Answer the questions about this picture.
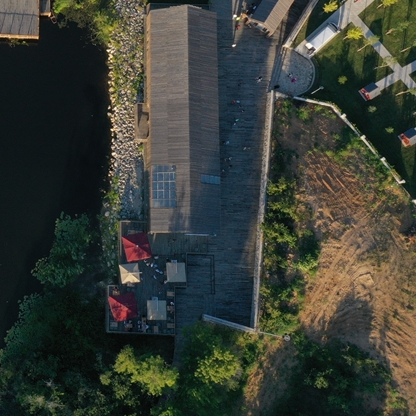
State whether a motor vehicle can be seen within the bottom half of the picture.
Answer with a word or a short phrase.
No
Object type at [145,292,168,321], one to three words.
umbrella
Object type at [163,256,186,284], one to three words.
umbrella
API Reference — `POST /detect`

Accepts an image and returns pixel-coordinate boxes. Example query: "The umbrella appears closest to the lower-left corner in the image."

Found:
[109,292,141,324]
